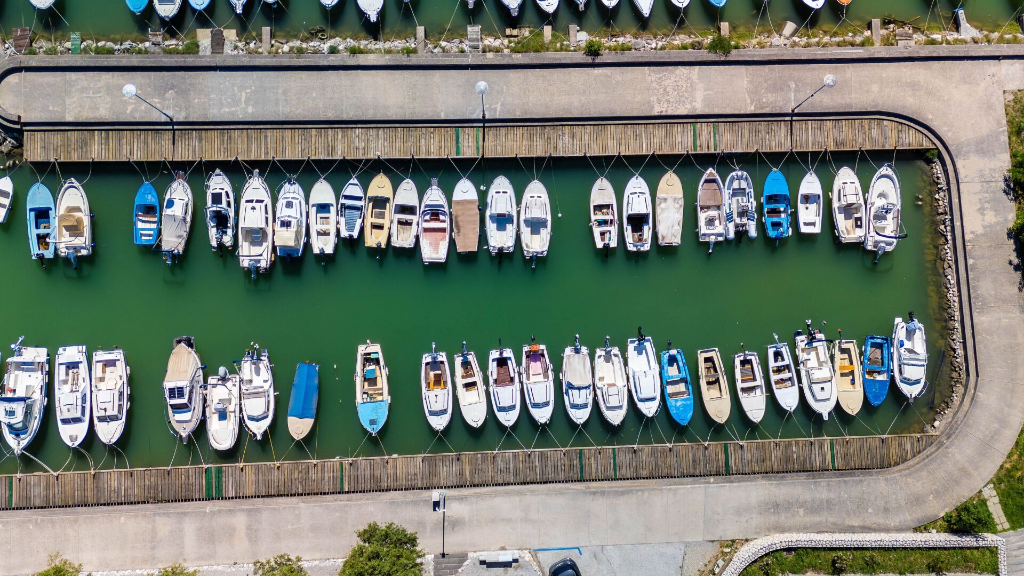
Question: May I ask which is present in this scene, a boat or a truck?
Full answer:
The image shows a boat.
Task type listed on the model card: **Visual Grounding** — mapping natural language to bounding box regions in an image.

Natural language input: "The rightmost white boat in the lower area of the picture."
[889,311,931,403]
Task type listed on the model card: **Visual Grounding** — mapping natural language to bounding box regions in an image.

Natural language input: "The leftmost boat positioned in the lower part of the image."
[0,334,56,456]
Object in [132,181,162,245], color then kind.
blue boat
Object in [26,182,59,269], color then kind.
blue boat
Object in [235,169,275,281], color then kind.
white boat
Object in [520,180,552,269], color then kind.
white boat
